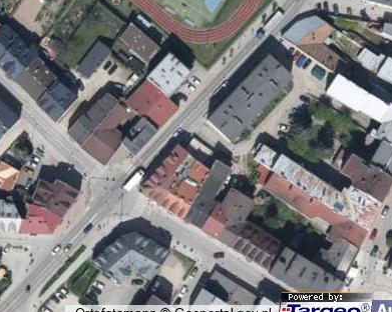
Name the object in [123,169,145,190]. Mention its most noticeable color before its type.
white vehicle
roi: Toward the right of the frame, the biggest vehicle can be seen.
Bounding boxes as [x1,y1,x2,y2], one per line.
[258,8,286,38]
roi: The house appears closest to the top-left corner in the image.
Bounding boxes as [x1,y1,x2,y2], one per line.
[0,25,39,79]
